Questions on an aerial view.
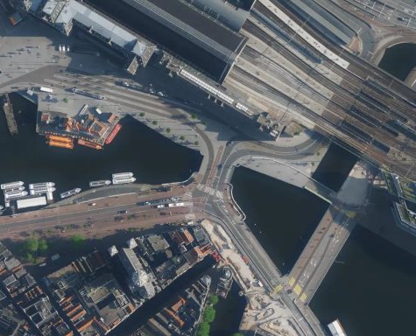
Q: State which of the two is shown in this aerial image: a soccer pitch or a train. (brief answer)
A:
train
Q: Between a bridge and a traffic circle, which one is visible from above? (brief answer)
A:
bridge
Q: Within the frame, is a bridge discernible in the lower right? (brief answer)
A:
Yes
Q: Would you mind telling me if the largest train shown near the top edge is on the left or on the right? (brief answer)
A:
right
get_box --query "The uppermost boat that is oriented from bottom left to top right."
[106,124,123,143]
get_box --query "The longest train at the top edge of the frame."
[253,12,321,61]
